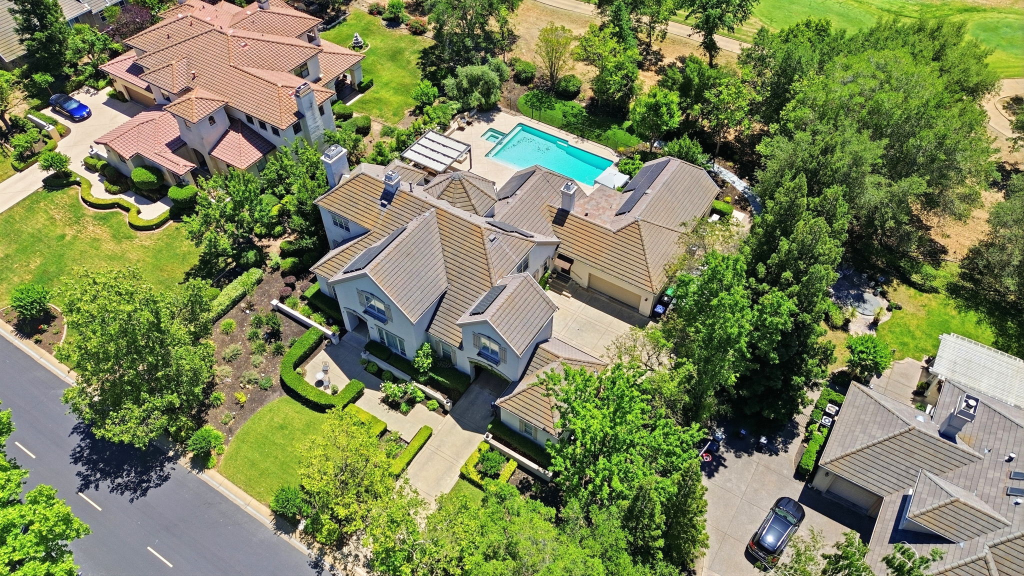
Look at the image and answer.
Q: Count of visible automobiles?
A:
two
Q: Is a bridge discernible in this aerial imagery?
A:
No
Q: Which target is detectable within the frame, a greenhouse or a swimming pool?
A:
swimming pool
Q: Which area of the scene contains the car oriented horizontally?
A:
top left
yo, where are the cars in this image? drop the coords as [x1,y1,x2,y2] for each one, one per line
[745,497,804,566]
[50,95,93,119]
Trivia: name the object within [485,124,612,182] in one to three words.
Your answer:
swimming pool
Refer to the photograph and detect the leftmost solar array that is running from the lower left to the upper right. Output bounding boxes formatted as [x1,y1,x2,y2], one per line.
[342,224,406,272]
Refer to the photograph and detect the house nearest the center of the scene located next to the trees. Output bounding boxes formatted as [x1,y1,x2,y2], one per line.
[306,149,725,454]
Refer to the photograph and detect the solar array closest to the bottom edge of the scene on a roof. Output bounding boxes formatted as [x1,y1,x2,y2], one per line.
[469,285,508,318]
